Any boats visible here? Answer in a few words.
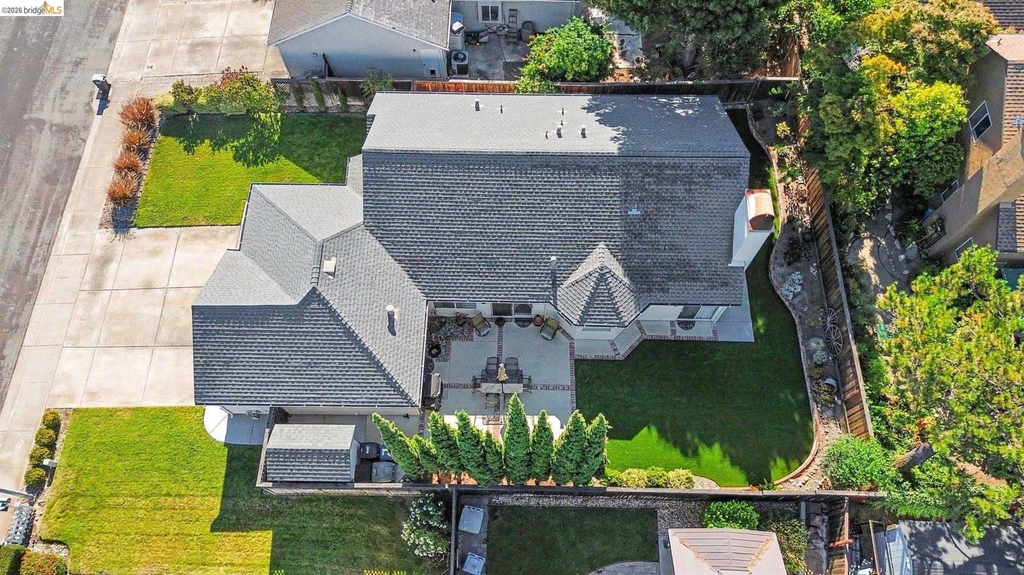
No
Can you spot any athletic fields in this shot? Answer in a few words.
No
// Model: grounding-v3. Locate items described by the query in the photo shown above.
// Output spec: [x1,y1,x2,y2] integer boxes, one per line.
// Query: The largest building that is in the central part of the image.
[187,91,773,413]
